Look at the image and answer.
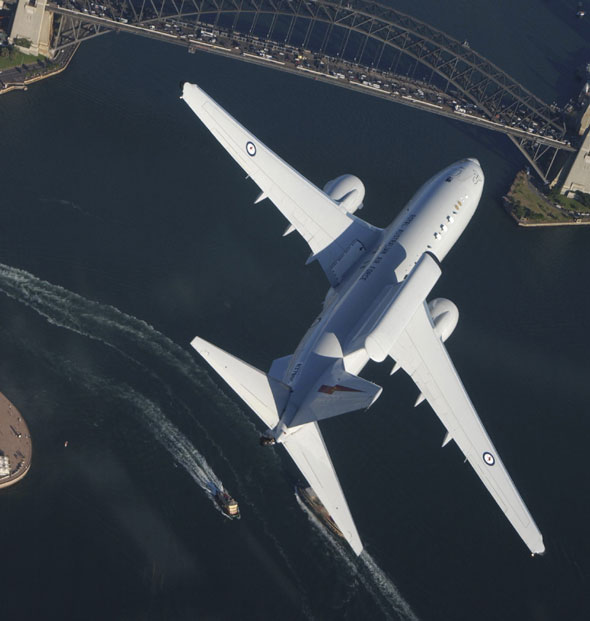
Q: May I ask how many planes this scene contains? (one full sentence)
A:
My tally gives 1 plane in this photo.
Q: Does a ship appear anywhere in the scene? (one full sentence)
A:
Yes, there's a ship here.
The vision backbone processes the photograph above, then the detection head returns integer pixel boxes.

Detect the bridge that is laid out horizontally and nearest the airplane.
[45,0,585,184]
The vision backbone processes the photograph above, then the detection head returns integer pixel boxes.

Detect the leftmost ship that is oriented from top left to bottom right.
[219,489,244,519]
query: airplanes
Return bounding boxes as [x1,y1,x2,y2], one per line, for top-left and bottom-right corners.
[175,75,541,553]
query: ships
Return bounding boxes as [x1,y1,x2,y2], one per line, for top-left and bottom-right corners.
[299,481,352,546]
[219,489,244,519]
